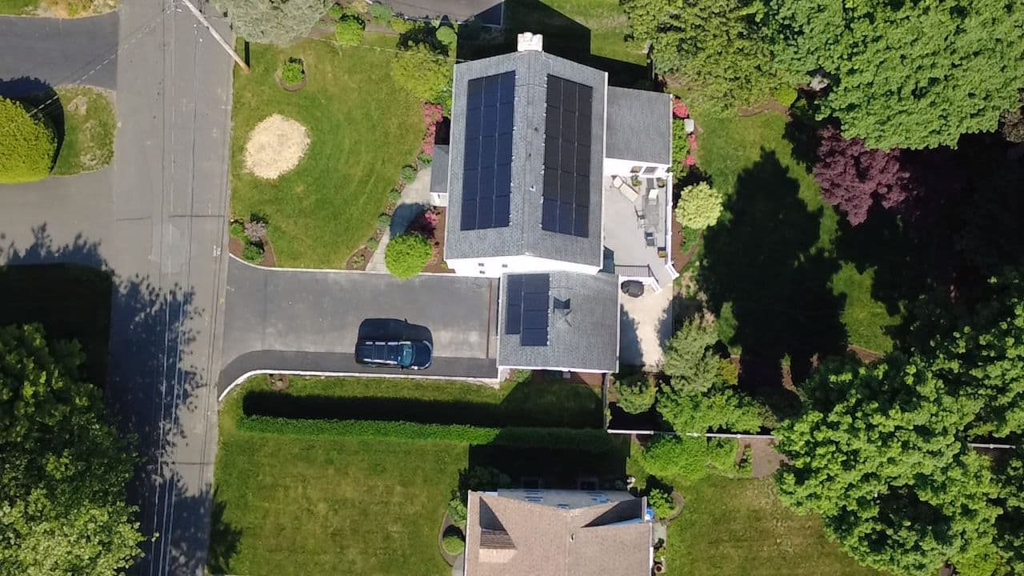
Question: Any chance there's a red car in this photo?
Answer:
No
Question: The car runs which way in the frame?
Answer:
from left to right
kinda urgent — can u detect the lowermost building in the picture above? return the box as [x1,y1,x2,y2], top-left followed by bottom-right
[465,486,658,576]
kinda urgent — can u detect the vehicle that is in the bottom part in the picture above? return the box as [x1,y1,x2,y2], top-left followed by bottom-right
[354,336,434,374]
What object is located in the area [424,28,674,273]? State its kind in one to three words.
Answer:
house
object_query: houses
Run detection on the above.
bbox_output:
[465,486,658,576]
[424,28,674,273]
